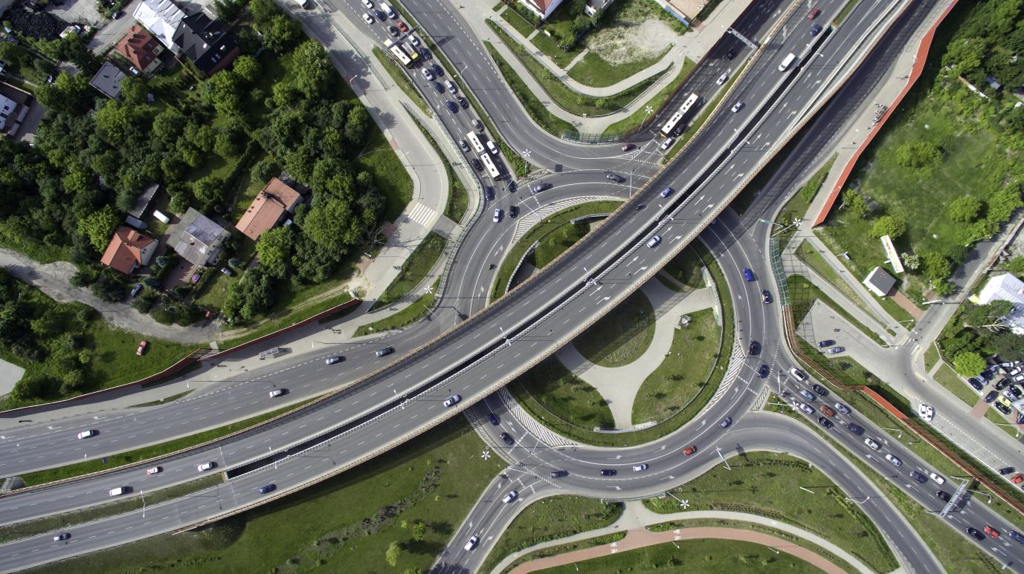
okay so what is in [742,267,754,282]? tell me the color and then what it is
blue vehicle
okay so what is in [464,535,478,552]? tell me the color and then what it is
white car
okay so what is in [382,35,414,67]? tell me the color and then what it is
white bus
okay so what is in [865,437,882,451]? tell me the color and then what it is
white car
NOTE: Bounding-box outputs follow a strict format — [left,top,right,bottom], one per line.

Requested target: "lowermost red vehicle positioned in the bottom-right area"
[985,526,1001,539]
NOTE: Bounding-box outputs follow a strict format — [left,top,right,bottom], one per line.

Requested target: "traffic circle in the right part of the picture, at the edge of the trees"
[442,130,913,574]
